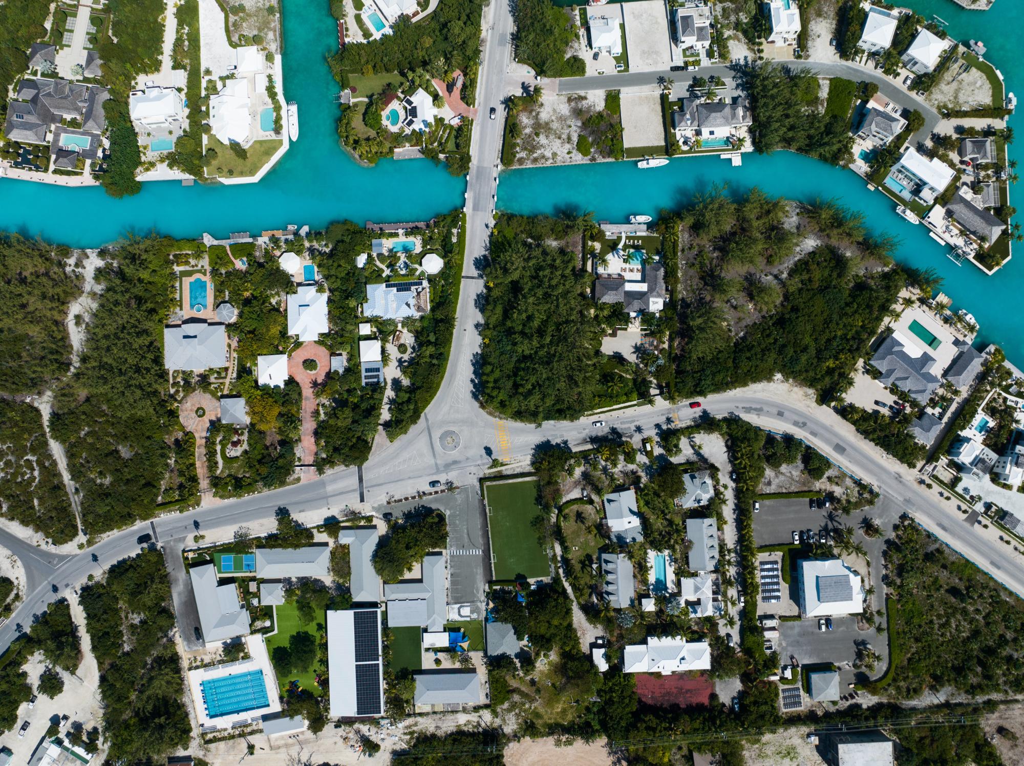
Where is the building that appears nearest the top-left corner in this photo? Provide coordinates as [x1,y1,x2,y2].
[28,42,61,69]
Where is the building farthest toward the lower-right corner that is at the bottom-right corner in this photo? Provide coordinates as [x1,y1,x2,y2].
[827,730,894,766]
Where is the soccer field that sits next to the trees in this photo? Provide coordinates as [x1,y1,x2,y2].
[485,480,550,581]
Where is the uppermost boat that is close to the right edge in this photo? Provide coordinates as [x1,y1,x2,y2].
[970,40,987,56]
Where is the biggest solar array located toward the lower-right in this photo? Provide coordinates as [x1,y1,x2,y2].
[760,558,786,602]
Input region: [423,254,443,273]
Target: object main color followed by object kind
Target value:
white gazebo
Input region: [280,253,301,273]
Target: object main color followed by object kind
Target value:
white gazebo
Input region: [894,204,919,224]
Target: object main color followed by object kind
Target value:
white boat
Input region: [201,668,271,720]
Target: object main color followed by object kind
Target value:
blue swimming pool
